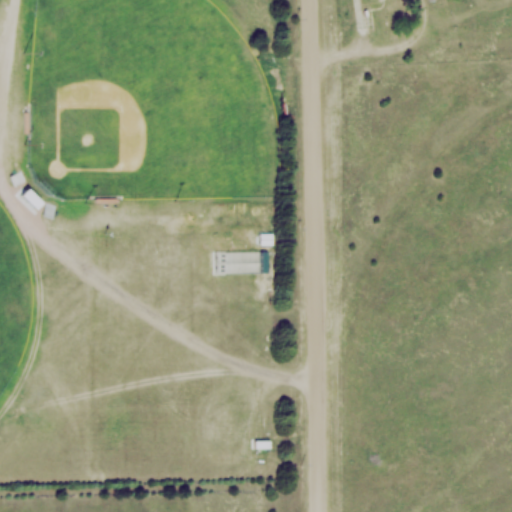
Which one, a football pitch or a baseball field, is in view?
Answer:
baseball field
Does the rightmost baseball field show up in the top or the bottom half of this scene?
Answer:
top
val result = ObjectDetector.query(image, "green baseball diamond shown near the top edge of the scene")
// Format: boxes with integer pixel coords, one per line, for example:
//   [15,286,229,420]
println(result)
[27,0,283,201]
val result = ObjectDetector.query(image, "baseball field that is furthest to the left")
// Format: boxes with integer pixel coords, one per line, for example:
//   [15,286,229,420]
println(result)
[0,193,36,404]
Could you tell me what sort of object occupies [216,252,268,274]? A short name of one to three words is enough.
shed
